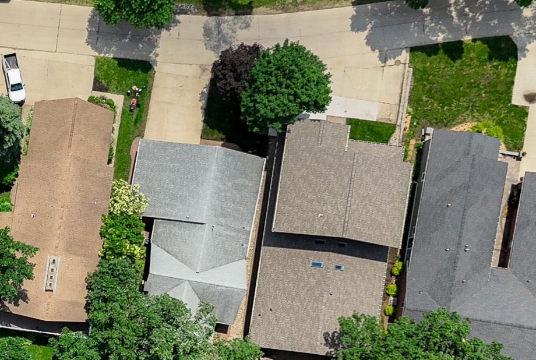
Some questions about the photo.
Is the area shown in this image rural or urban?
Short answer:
urban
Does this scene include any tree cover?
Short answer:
Yes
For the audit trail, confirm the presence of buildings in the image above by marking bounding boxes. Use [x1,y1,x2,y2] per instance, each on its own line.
[128,139,267,343]
[0,98,114,341]
[389,128,536,360]
[240,119,412,358]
